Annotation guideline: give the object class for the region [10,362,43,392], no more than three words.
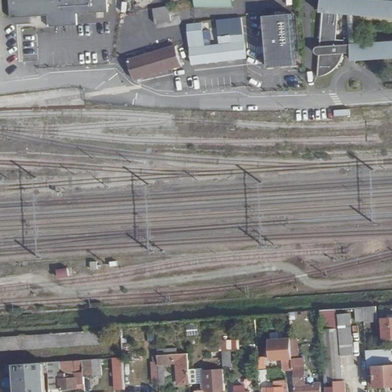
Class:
building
